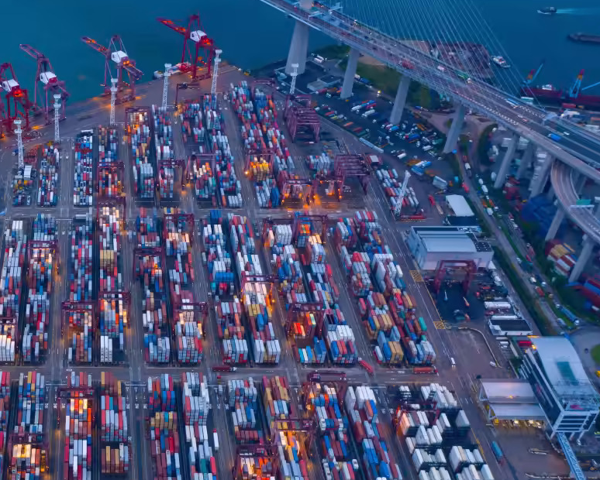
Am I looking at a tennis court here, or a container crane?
container crane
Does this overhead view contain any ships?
Yes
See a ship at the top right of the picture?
Yes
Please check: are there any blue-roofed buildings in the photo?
Yes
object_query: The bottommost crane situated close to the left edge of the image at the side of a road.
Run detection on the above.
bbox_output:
[6,431,52,472]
